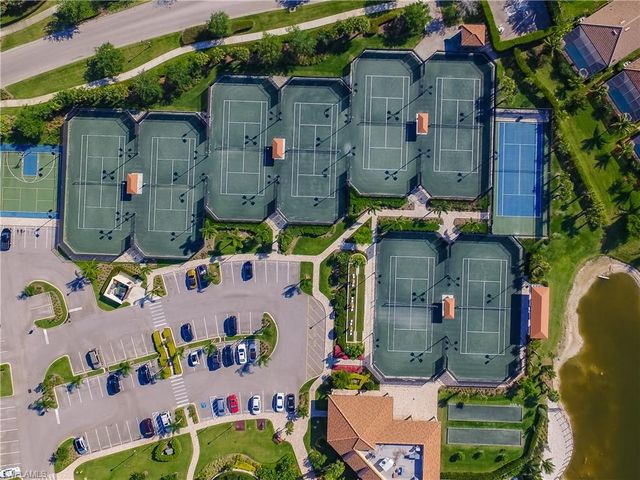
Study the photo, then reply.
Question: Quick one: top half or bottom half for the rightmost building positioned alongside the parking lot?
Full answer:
Seen from above, the rightmost building positioned alongside the parking lot lies in the bottom half of the view.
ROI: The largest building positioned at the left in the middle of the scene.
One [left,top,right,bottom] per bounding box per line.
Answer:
[104,274,136,303]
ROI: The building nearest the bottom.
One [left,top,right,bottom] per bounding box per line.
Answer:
[328,391,441,480]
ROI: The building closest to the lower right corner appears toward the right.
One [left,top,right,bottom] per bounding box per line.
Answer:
[526,282,551,340]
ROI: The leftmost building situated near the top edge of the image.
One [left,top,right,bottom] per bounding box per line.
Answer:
[458,24,487,49]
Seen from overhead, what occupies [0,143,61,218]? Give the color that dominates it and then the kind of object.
green basketball court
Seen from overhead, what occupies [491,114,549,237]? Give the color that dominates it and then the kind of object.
blue tennis court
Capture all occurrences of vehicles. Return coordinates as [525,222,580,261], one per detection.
[76,436,88,455]
[183,322,194,342]
[276,392,284,412]
[224,346,234,367]
[252,395,261,414]
[498,26,505,35]
[286,394,295,412]
[141,364,152,385]
[198,265,211,289]
[229,394,239,414]
[217,397,226,415]
[143,418,155,438]
[227,316,237,337]
[1,228,12,251]
[244,261,253,281]
[110,373,122,394]
[211,351,222,372]
[161,409,172,431]
[238,343,248,363]
[248,344,258,364]
[191,349,201,368]
[188,269,198,289]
